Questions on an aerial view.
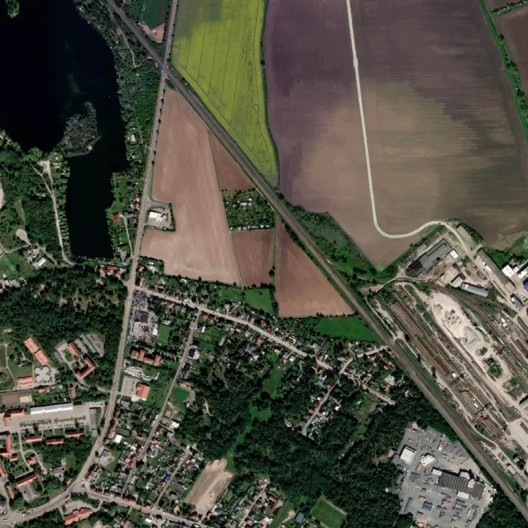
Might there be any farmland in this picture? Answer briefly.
Yes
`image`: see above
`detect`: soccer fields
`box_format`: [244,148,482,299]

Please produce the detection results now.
[311,497,347,528]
